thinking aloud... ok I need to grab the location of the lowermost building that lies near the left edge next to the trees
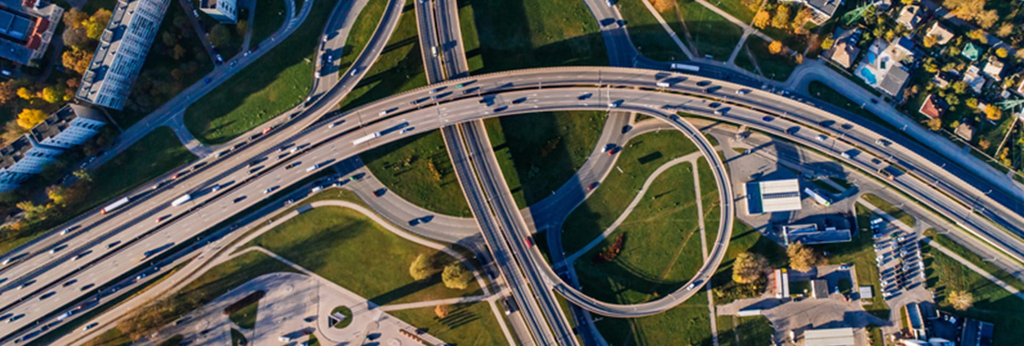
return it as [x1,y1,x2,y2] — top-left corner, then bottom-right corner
[0,135,64,187]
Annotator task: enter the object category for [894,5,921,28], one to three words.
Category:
house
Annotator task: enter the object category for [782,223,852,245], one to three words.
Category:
building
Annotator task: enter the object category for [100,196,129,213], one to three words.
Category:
vehicle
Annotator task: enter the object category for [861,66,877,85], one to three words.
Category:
swimming pool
